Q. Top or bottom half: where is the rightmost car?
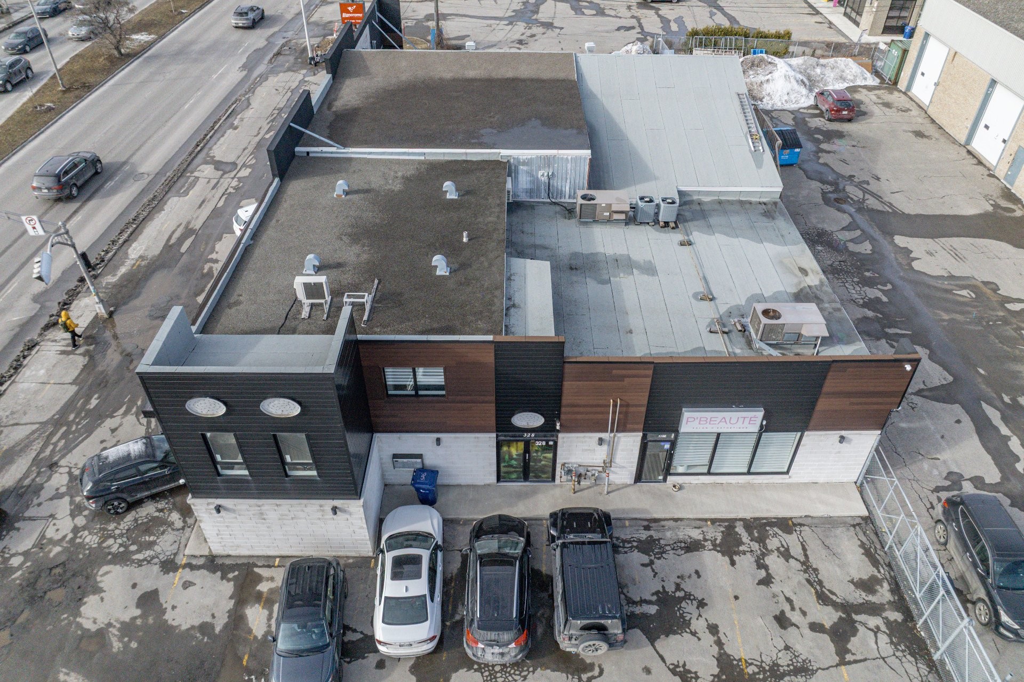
bottom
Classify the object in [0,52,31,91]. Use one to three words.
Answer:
car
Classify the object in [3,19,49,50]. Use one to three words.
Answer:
car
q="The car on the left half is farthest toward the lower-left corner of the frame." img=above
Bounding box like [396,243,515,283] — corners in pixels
[71,430,178,514]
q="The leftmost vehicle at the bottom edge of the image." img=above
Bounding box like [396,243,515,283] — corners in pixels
[259,553,353,682]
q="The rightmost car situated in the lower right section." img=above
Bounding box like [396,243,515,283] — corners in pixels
[935,489,1024,654]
